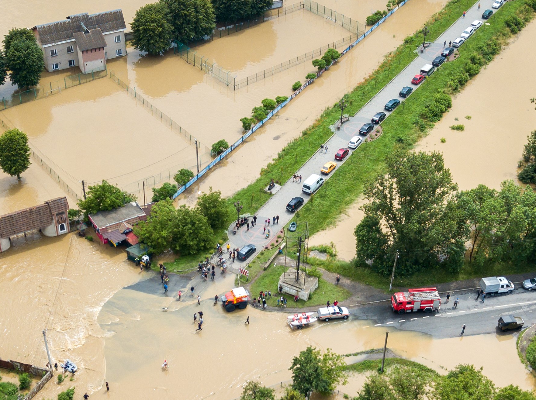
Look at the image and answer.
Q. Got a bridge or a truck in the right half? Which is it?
truck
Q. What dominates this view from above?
water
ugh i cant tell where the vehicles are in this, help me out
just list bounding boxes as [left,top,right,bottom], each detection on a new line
[283,197,305,215]
[440,47,455,58]
[481,9,494,20]
[319,162,338,177]
[411,75,425,86]
[450,36,466,48]
[383,98,401,112]
[460,24,474,38]
[346,136,364,151]
[495,314,524,332]
[357,123,376,137]
[316,305,351,322]
[370,112,388,125]
[301,176,324,197]
[418,63,436,79]
[399,87,414,99]
[491,0,504,9]
[478,276,516,297]
[333,148,350,163]
[389,281,445,315]
[220,288,248,312]
[470,20,483,31]
[432,56,446,68]
[234,244,259,264]
[521,278,536,292]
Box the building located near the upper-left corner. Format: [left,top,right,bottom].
[31,9,129,74]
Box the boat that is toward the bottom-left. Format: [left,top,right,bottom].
[60,359,78,373]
